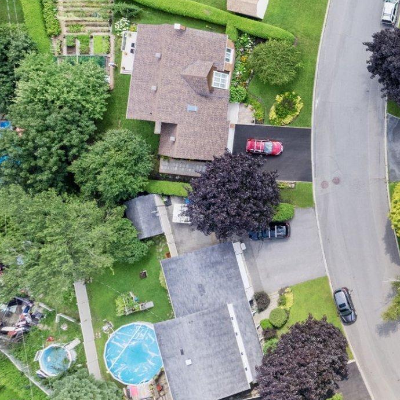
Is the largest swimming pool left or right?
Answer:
left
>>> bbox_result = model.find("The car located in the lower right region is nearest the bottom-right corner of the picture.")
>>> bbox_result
[334,285,358,324]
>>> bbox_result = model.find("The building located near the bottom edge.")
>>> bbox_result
[153,241,278,400]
